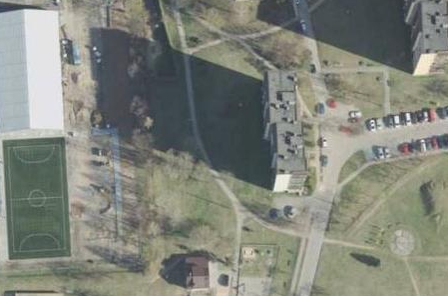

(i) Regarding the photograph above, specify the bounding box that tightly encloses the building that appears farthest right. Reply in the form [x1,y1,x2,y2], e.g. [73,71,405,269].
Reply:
[405,0,448,77]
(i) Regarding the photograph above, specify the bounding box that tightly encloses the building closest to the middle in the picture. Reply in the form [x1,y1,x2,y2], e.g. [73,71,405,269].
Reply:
[263,71,306,194]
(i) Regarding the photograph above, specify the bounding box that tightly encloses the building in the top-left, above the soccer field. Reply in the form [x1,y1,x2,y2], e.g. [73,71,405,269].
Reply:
[0,8,64,135]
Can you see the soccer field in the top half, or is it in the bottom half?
bottom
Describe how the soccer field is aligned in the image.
from top to bottom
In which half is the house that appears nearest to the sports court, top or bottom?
bottom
